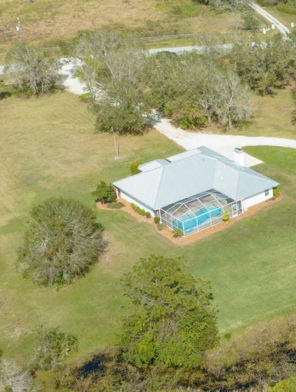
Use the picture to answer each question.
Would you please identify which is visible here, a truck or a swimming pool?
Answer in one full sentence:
Visible in the photo is a swimming pool.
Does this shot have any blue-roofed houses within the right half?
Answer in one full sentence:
No, I see no blue-roofed house within the right half.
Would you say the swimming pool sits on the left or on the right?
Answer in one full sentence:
The swimming pool appears in the right half of the scene.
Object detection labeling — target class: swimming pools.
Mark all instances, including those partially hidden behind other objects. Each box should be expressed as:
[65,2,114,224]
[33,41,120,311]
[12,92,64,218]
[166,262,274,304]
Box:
[158,198,241,235]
